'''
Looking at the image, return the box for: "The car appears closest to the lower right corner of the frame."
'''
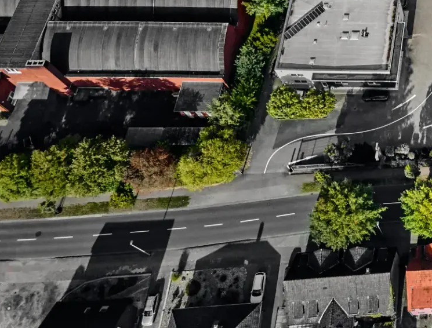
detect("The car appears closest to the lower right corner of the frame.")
[250,270,269,291]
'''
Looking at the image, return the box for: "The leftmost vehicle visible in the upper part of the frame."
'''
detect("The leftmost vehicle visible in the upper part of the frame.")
[361,89,391,102]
